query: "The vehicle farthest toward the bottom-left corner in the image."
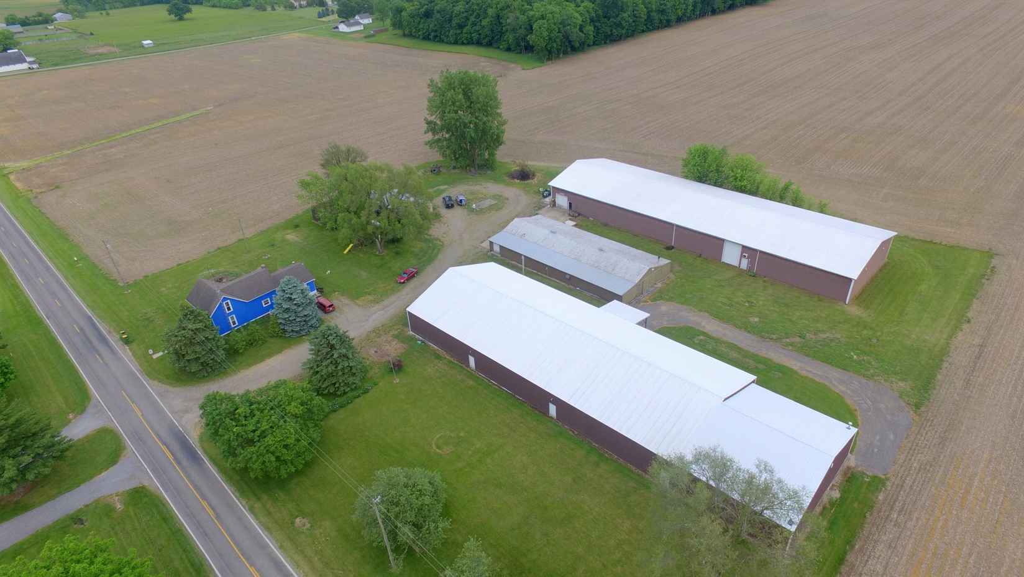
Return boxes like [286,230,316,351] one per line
[314,296,336,312]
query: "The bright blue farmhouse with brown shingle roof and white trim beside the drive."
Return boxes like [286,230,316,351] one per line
[187,262,332,334]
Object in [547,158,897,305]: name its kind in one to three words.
barn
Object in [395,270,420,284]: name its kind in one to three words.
car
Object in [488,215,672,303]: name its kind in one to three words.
shed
